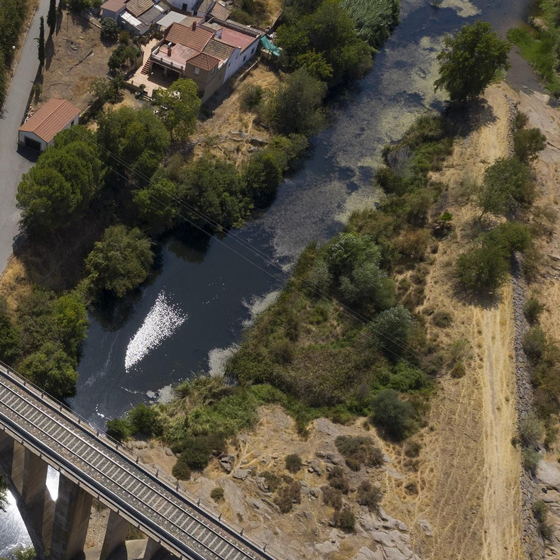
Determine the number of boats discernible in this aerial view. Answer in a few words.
0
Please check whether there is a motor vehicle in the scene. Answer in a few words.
No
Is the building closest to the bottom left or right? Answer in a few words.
left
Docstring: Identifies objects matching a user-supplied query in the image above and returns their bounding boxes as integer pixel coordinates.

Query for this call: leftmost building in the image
[19,98,80,161]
